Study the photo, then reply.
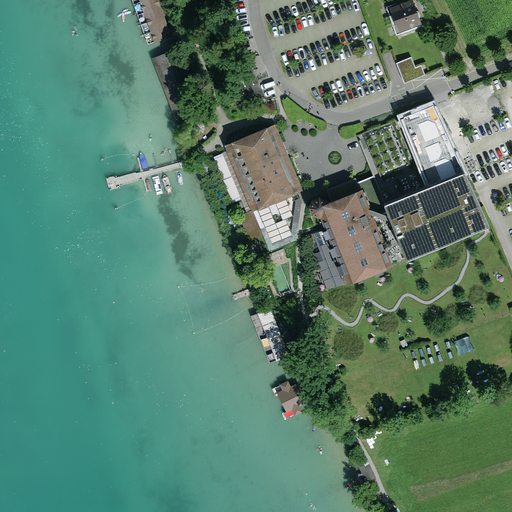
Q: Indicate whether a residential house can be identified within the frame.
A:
Yes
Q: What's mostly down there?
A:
water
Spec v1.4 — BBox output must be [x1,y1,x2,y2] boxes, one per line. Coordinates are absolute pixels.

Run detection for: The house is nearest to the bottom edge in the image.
[272,380,302,420]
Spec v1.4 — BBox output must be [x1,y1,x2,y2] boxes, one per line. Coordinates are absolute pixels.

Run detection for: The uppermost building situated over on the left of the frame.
[132,0,166,44]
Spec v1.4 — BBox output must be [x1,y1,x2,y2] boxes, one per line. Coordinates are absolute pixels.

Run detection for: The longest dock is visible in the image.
[106,150,182,192]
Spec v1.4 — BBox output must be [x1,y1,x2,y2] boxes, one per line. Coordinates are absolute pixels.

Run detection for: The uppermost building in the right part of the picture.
[388,0,423,38]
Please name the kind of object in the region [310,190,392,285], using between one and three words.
building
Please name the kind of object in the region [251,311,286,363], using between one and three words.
house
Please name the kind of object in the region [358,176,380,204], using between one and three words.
building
